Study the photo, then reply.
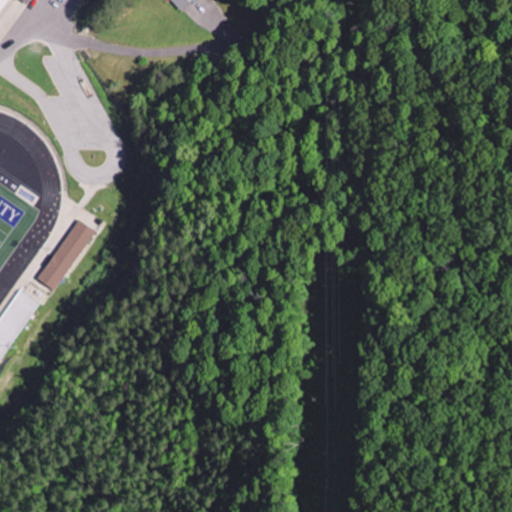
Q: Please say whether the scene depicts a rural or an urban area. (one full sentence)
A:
The land in this view is best described as rural.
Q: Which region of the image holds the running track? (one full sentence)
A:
You can find the running track in the left area of the picture.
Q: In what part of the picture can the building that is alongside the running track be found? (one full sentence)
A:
The building that is alongside the running track is located in the left region of the scene.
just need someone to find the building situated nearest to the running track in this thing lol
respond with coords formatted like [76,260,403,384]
[36,219,96,292]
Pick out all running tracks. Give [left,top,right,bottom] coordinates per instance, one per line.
[0,113,62,302]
